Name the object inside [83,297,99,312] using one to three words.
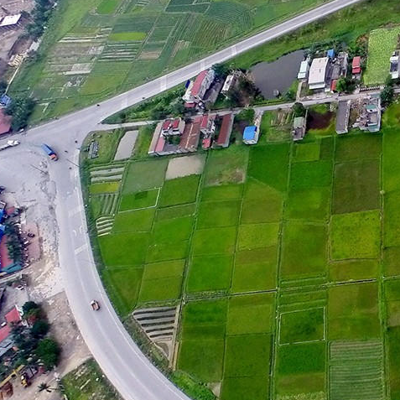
vehicle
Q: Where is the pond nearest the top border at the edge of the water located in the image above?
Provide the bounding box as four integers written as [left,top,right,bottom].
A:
[249,48,313,99]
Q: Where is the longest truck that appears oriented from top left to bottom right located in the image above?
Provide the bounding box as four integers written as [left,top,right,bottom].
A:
[33,138,58,159]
